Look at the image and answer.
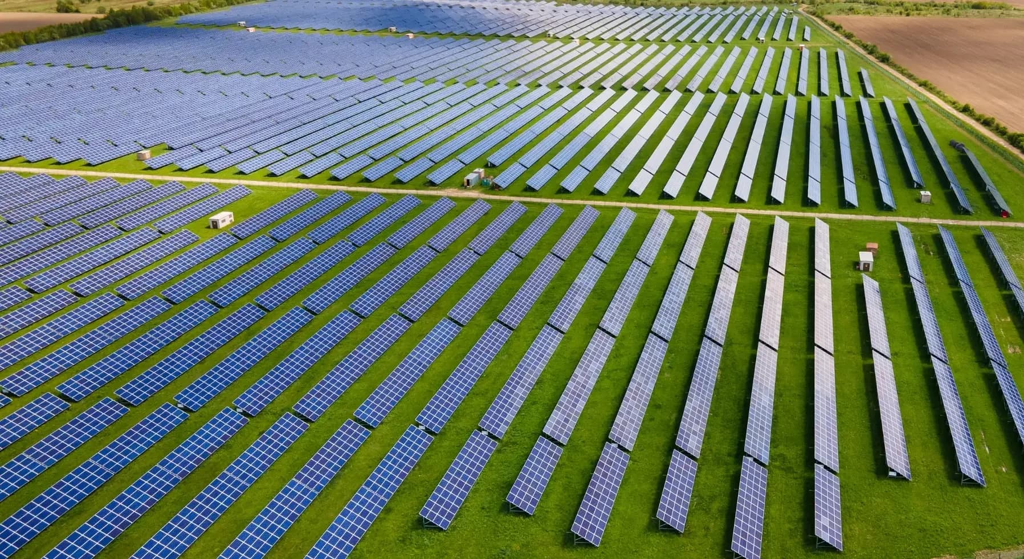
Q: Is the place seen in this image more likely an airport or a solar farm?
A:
solar farm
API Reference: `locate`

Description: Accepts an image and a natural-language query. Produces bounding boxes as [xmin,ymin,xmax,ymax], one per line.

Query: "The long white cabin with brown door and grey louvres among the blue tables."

[209,211,235,229]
